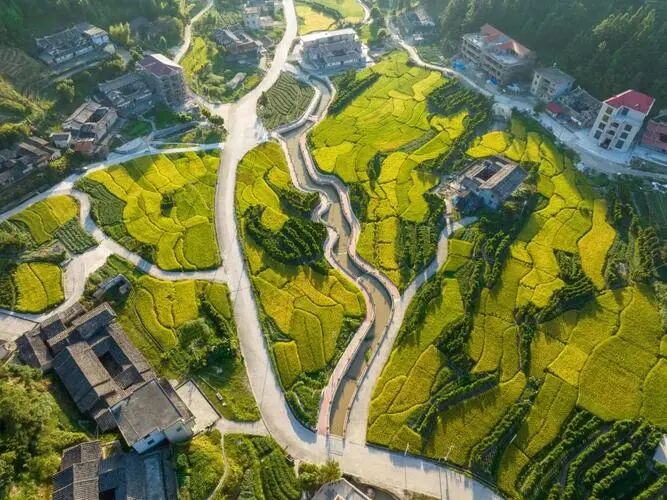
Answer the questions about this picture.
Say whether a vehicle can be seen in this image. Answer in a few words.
No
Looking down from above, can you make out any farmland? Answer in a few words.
Yes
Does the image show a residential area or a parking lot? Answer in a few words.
residential area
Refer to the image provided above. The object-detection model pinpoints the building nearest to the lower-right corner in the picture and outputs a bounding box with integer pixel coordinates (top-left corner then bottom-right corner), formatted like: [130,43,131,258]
[313,470,370,500]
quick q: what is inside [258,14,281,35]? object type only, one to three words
shed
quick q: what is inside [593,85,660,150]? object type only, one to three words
building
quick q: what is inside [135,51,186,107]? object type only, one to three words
building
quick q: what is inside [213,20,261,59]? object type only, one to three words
house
